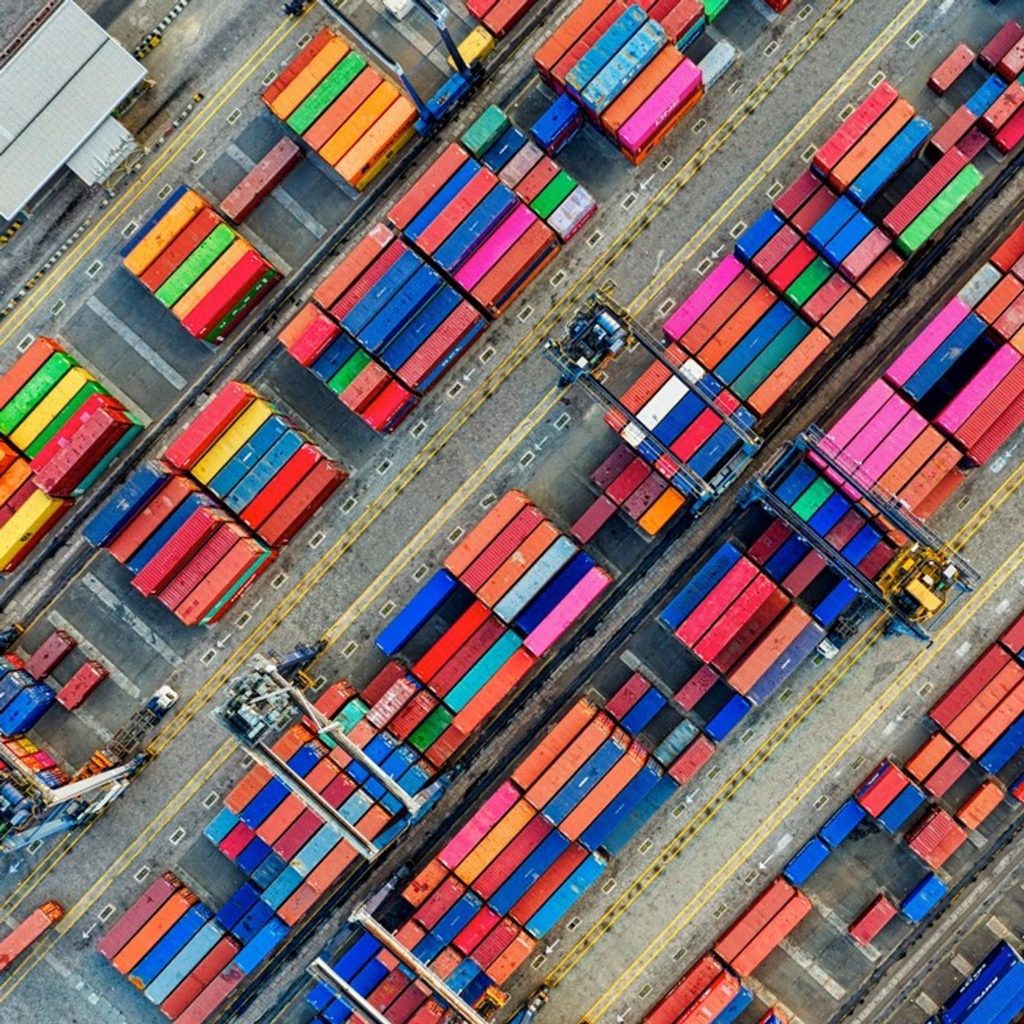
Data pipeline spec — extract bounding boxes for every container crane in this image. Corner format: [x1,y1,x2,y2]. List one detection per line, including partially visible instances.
[285,0,487,142]
[208,633,469,864]
[551,293,770,511]
[304,853,557,1024]
[741,424,983,647]
[0,726,153,871]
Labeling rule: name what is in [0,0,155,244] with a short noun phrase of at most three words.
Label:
shed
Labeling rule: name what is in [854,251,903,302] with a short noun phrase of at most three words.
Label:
shipping container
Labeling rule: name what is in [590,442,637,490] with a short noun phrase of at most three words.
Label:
shipping container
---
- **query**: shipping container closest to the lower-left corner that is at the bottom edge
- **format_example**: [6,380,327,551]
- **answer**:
[0,904,60,981]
